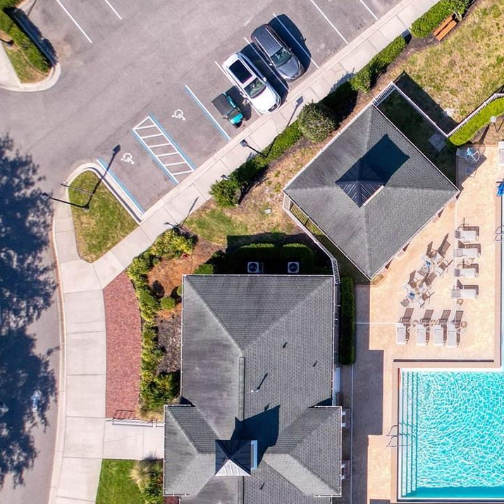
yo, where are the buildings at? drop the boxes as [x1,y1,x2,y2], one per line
[283,101,462,278]
[162,273,358,504]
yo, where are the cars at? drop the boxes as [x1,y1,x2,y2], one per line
[246,19,305,81]
[218,47,280,113]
